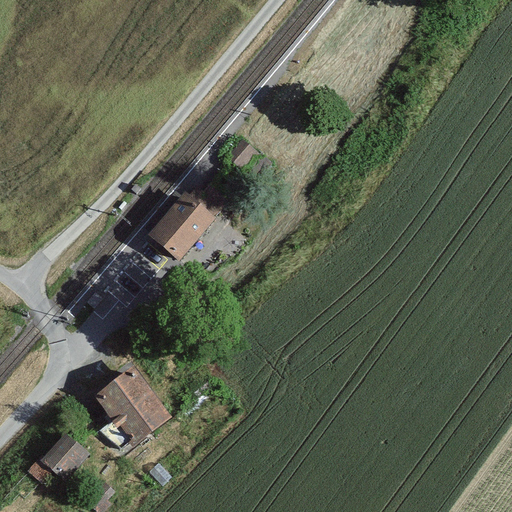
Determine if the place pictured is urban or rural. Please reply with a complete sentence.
It looks rural.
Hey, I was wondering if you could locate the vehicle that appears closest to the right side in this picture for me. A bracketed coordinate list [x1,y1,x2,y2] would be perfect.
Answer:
[143,247,164,265]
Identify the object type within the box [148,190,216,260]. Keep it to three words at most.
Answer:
house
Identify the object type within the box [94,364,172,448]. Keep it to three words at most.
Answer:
house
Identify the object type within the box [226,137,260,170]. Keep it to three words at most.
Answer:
shed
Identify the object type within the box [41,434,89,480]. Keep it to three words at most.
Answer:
barn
